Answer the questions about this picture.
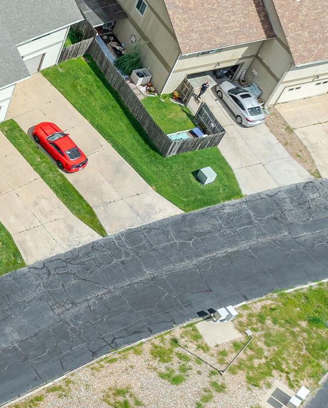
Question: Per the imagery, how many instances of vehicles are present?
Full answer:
The photo contains 2 vehicles.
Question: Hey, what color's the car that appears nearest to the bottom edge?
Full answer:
In this view, the car that appears nearest to the bottom edge is red.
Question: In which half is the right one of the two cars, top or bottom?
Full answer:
The top half of the photo is where the right one of the two cars is.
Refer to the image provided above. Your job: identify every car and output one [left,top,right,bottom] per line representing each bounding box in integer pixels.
[33,120,90,172]
[218,79,272,127]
